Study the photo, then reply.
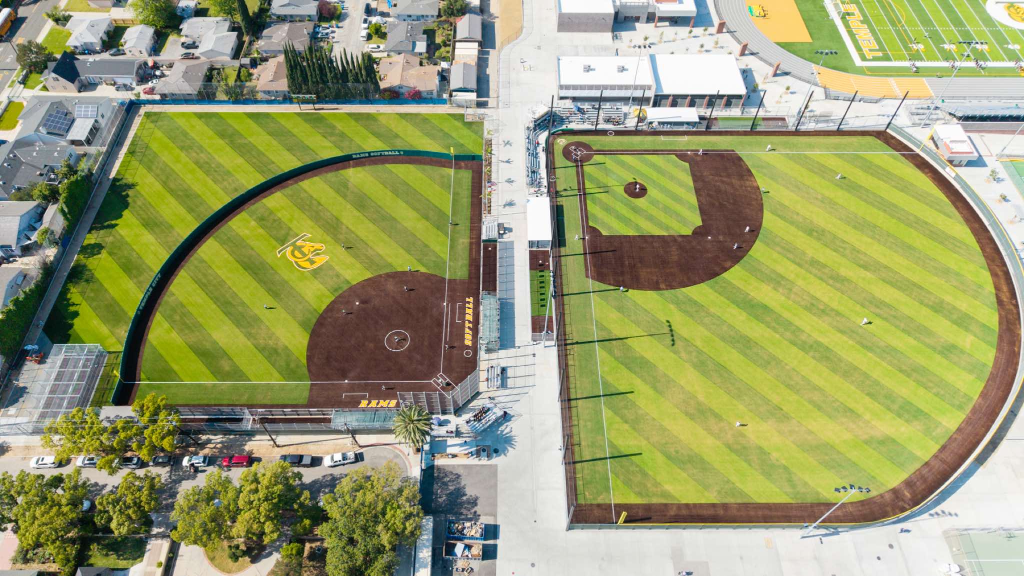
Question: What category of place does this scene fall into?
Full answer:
This looks like a sports ground.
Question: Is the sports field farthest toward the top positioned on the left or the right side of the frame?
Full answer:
You can find the sports field farthest toward the top on the right side of the picture.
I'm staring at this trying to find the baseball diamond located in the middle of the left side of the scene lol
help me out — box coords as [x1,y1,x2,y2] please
[40,111,483,414]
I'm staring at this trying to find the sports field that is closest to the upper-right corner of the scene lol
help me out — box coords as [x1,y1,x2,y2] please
[745,0,1024,80]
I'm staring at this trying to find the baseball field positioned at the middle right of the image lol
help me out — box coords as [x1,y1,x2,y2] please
[550,130,1020,526]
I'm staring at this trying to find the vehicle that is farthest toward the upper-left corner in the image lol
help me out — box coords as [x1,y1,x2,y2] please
[0,11,20,39]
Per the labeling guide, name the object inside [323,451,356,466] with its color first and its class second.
white vehicle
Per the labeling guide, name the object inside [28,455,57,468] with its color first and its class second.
white vehicle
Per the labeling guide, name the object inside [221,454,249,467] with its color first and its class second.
red vehicle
